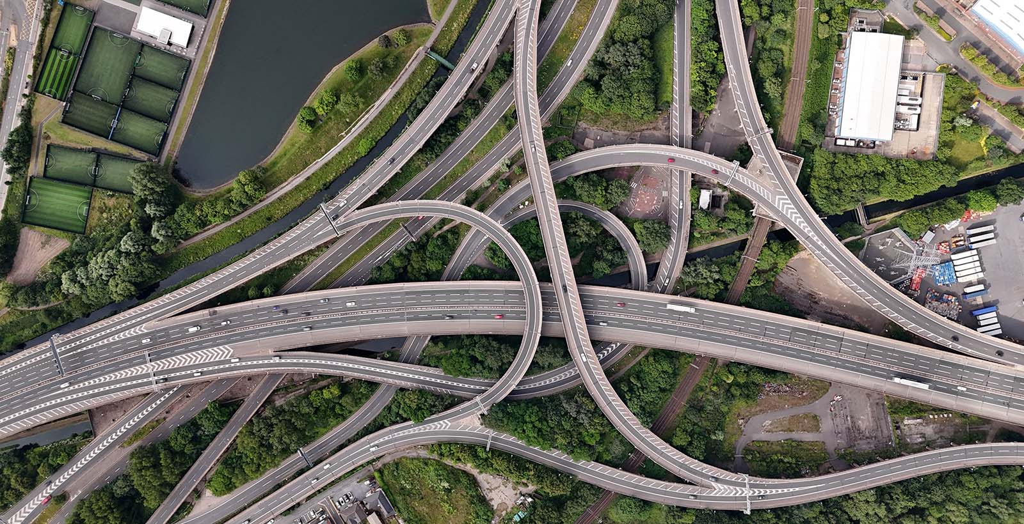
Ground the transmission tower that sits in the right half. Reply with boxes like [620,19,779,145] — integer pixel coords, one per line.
[884,242,942,272]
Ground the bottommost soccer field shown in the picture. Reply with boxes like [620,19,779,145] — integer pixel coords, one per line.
[19,176,93,234]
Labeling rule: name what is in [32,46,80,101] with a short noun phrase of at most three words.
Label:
soccer field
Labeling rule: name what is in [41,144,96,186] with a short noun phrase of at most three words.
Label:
soccer field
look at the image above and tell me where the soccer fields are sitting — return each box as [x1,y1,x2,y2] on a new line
[41,144,96,186]
[93,153,147,193]
[108,107,168,156]
[49,1,94,55]
[19,176,93,234]
[159,0,211,17]
[58,91,119,137]
[119,75,179,124]
[130,44,191,92]
[32,46,80,101]
[71,25,141,105]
